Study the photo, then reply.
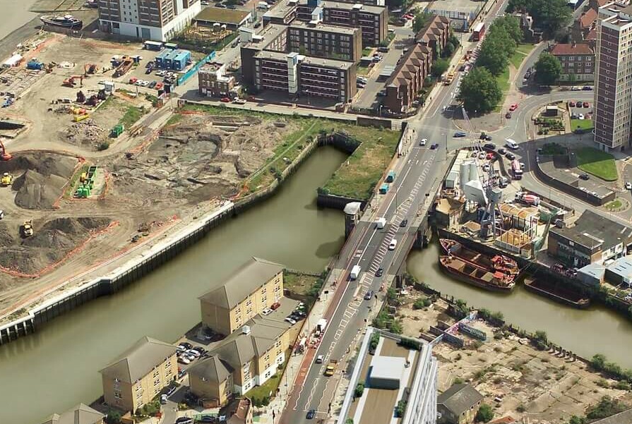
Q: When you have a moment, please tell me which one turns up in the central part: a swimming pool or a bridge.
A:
bridge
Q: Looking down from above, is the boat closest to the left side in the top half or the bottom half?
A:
top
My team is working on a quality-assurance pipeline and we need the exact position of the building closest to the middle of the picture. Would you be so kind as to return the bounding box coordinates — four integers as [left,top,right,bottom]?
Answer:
[338,203,362,231]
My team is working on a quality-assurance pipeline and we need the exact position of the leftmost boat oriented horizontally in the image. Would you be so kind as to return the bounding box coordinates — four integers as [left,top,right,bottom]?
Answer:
[39,7,85,28]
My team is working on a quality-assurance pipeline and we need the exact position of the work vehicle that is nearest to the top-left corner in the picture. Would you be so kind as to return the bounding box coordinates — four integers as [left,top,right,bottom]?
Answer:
[40,60,56,73]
